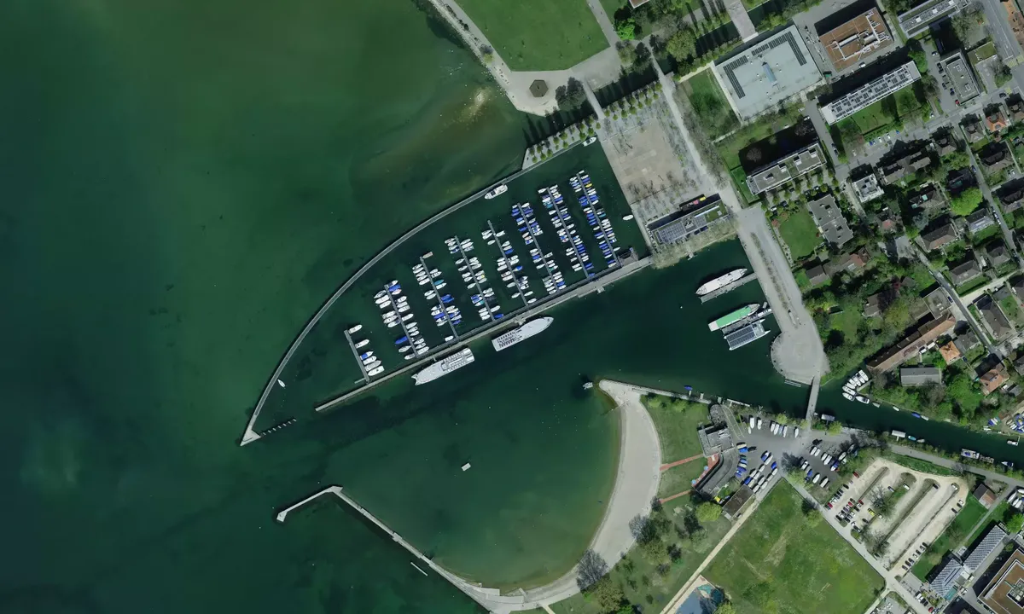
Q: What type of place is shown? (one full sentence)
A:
The picture captures a port.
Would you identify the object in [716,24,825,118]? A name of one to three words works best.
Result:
building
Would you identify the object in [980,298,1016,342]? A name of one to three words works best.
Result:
house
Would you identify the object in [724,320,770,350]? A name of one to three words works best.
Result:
vessel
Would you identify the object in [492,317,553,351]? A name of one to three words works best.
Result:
ship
